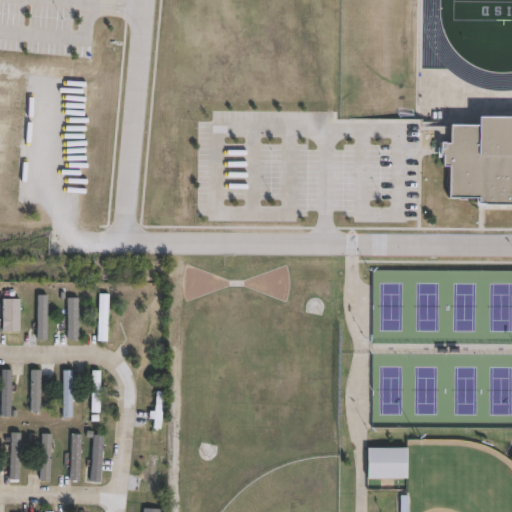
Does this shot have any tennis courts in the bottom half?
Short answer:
Yes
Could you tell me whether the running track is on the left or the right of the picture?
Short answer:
right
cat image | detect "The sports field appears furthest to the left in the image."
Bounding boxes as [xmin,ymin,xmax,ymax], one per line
[184,262,339,512]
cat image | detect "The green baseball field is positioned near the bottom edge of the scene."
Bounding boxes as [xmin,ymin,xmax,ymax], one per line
[406,439,512,512]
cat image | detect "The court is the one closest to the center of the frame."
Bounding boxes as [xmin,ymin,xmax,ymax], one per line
[380,284,402,332]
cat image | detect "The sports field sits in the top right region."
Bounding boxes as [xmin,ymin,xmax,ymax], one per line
[444,0,512,71]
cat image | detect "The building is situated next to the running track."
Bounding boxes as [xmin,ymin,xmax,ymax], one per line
[440,116,512,210]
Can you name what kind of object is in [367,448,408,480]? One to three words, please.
building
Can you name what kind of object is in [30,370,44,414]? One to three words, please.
house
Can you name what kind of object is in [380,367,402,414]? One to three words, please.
tennis court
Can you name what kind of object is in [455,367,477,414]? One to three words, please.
tennis court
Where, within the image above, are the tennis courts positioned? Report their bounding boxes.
[454,284,476,332]
[380,367,402,414]
[380,284,402,332]
[416,284,438,332]
[455,367,477,414]
[490,284,512,332]
[415,367,437,414]
[490,367,512,414]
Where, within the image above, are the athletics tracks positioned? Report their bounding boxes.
[423,0,512,90]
